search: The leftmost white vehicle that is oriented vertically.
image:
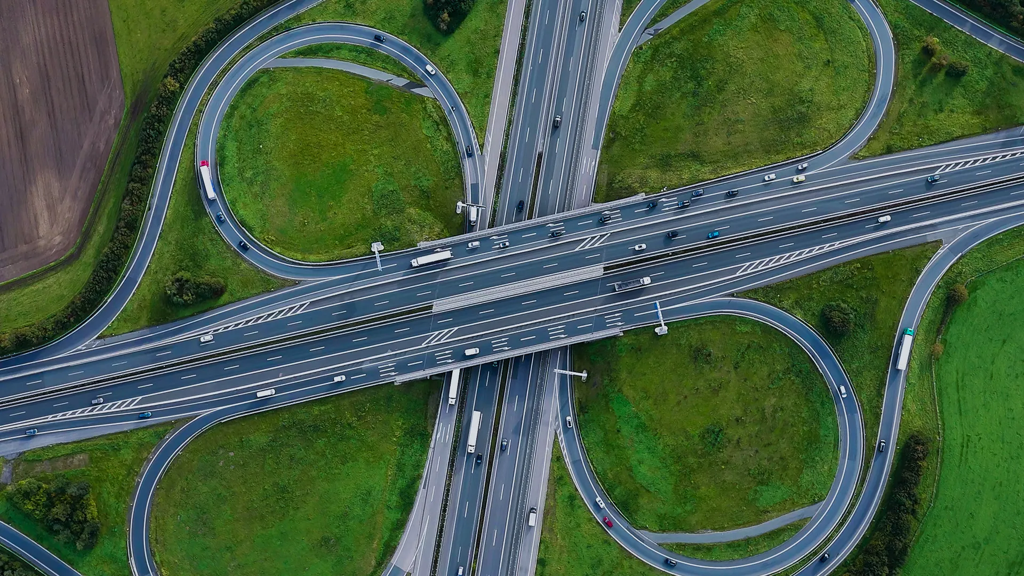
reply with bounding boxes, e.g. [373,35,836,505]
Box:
[200,162,217,202]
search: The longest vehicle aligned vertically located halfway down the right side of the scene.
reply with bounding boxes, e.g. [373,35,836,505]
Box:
[895,328,913,370]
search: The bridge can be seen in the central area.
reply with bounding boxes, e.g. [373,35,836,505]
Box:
[395,194,648,387]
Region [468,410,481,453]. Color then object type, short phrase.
white vehicle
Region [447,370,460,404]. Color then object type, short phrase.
white vehicle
